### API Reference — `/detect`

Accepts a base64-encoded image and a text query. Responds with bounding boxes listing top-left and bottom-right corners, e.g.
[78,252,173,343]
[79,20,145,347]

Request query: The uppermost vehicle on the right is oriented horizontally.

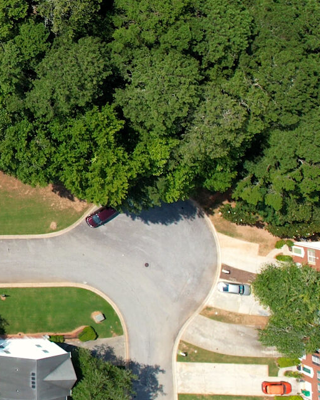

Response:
[217,281,250,296]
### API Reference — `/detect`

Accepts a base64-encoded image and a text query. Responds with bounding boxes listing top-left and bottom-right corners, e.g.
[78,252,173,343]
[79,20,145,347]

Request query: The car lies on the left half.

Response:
[84,205,119,229]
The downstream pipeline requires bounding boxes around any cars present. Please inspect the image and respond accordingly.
[84,205,119,229]
[259,380,292,397]
[217,281,250,296]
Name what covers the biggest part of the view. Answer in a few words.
trees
